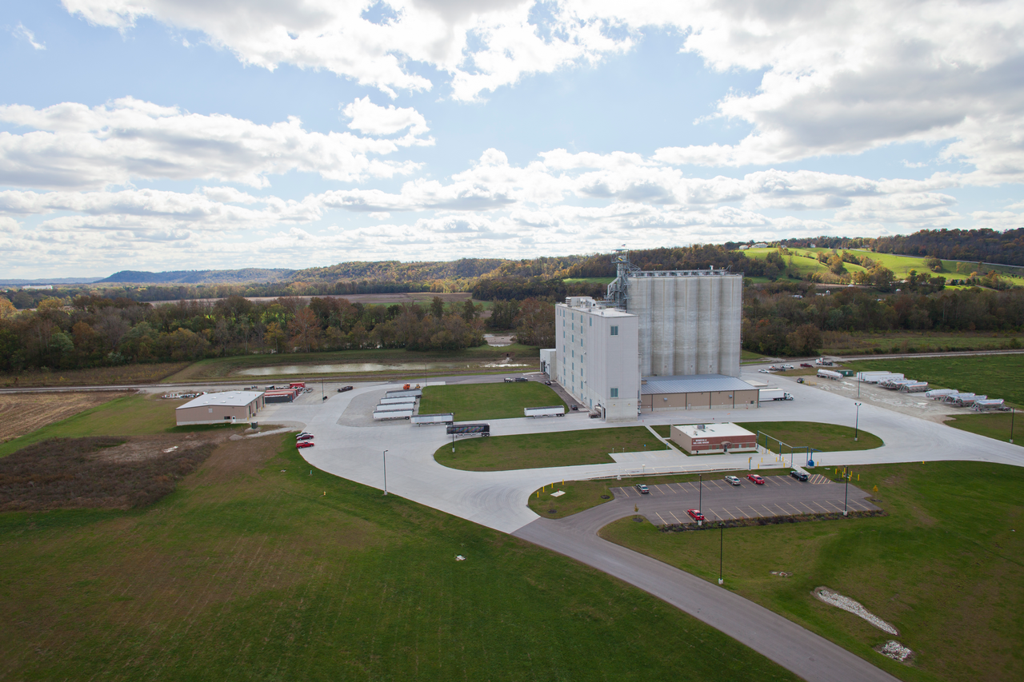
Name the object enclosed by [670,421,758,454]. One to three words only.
building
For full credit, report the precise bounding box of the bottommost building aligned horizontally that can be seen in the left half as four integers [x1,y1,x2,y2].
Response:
[174,391,266,424]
